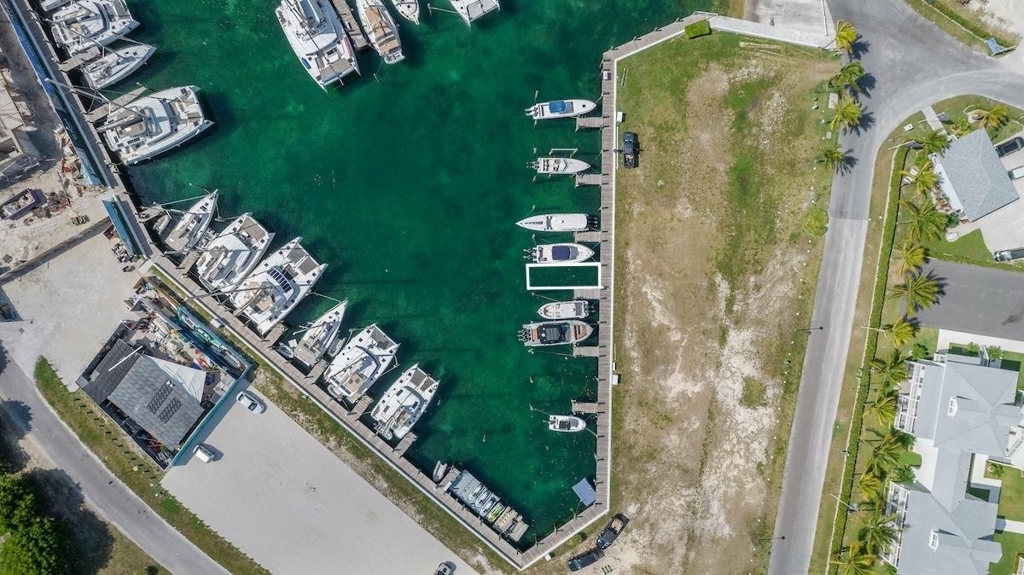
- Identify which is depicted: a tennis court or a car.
car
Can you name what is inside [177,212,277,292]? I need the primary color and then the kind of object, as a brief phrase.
white boat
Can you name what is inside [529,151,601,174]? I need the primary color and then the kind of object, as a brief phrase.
white boat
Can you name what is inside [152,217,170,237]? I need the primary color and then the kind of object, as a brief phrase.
gray boat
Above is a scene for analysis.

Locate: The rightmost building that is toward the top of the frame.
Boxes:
[924,128,1020,222]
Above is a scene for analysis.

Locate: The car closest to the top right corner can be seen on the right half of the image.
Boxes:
[995,134,1024,157]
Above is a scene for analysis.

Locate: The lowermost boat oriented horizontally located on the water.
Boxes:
[534,408,597,437]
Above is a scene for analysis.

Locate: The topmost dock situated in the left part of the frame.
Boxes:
[332,0,368,49]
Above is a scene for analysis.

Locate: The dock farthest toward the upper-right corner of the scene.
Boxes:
[604,10,716,60]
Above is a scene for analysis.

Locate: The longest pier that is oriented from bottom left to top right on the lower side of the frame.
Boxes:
[521,502,610,568]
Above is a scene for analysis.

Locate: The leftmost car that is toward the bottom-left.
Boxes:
[191,444,216,465]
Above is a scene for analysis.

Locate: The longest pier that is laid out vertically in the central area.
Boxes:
[595,53,614,508]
